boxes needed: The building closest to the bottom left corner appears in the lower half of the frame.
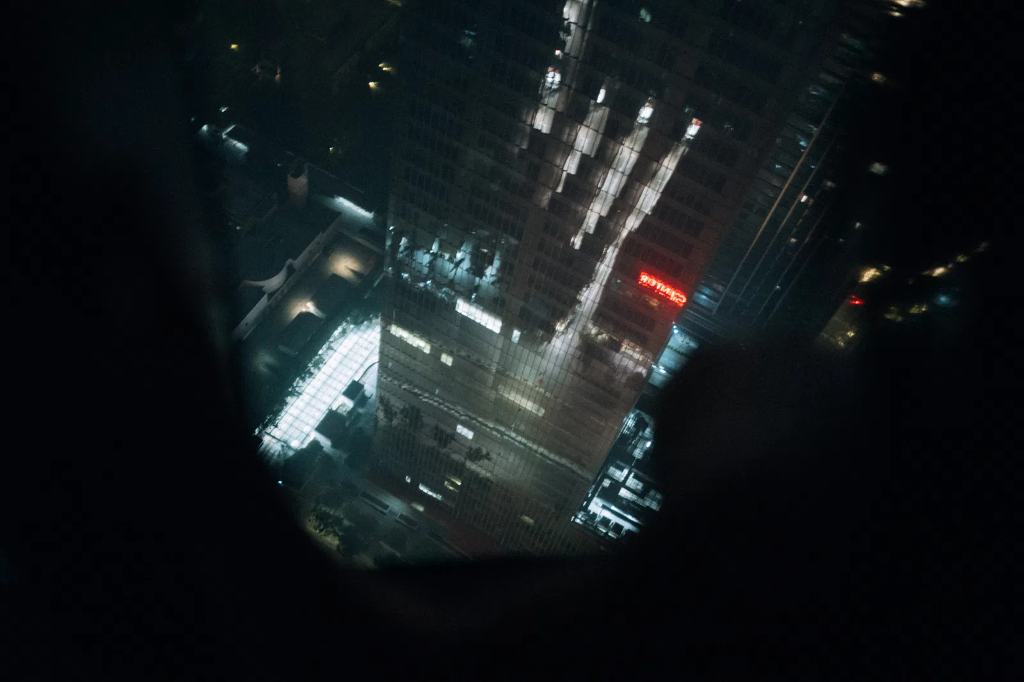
[316,409,348,447]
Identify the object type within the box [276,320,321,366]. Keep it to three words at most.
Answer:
building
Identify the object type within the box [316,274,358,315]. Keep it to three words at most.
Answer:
building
